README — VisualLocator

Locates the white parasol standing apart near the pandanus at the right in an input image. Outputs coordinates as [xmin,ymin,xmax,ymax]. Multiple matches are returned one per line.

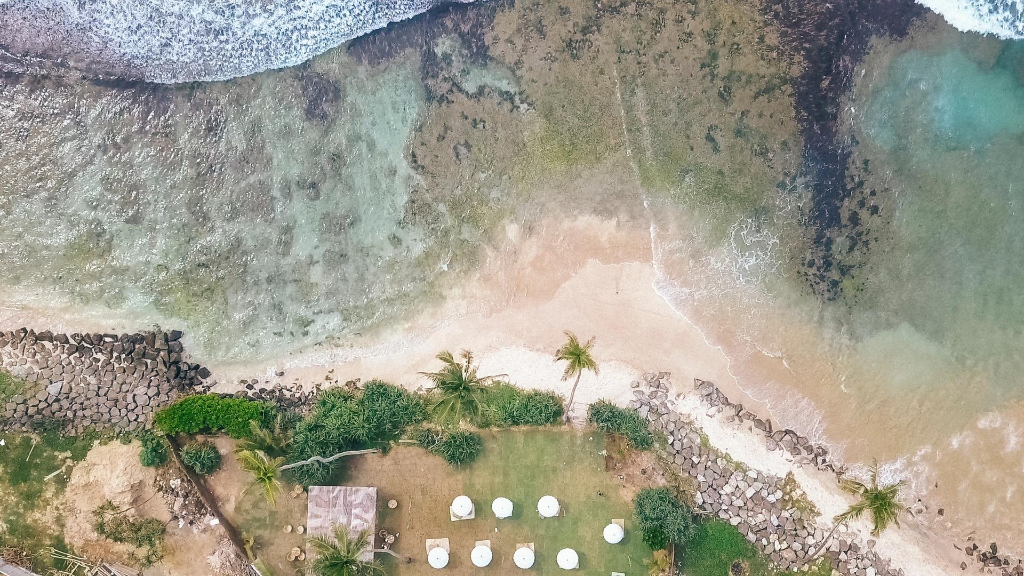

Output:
[602,521,625,544]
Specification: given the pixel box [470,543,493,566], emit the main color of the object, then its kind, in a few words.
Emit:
white umbrella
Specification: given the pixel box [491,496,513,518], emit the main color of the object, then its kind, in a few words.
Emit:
white umbrella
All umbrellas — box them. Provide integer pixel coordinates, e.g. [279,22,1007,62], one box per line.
[470,543,493,566]
[556,547,579,570]
[512,545,535,569]
[602,521,625,544]
[491,496,513,518]
[451,494,473,517]
[427,545,450,568]
[537,494,559,517]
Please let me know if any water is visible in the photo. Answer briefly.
Yes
